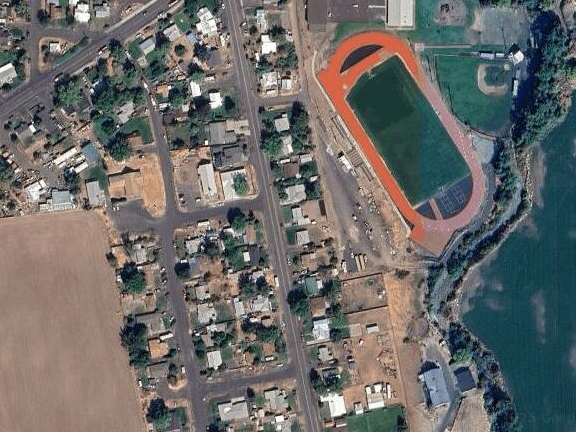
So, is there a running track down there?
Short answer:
Yes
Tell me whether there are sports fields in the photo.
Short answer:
Yes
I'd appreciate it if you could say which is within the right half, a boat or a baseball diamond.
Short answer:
baseball diamond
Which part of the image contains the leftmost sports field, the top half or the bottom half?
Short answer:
top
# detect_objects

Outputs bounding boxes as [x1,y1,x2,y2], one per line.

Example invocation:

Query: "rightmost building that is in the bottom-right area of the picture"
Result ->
[456,367,477,393]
